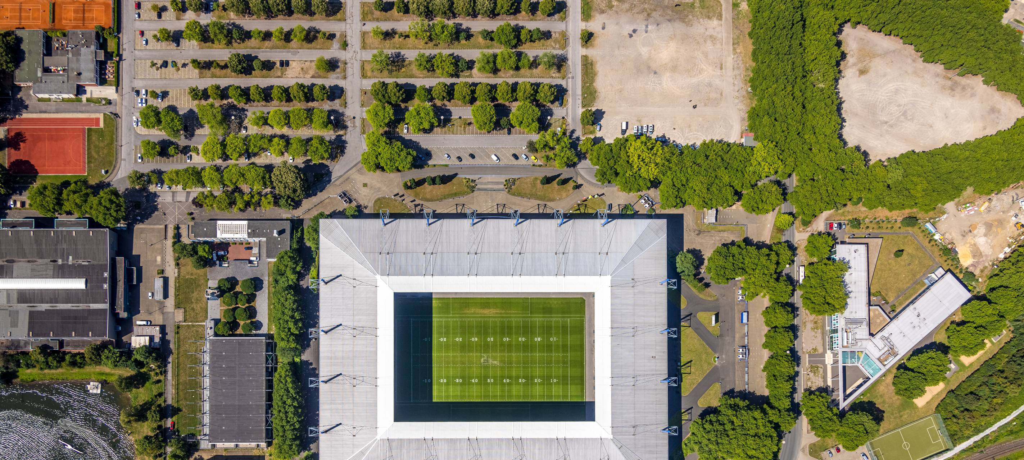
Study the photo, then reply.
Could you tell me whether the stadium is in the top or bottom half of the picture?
bottom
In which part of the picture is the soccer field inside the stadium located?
bottom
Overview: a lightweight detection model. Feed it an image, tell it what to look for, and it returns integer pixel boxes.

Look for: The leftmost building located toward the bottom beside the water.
[0,219,118,356]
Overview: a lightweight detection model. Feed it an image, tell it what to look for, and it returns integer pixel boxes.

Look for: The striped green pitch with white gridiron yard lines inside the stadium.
[396,298,585,422]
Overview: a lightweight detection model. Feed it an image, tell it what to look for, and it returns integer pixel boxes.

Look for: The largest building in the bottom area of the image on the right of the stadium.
[824,238,972,408]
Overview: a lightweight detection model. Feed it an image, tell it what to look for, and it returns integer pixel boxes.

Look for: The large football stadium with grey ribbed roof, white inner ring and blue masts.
[309,208,678,460]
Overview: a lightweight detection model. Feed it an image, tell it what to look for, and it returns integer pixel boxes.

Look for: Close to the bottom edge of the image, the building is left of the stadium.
[187,321,274,449]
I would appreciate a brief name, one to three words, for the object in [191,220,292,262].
building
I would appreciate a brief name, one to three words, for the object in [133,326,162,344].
building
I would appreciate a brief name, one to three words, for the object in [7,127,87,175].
sports court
